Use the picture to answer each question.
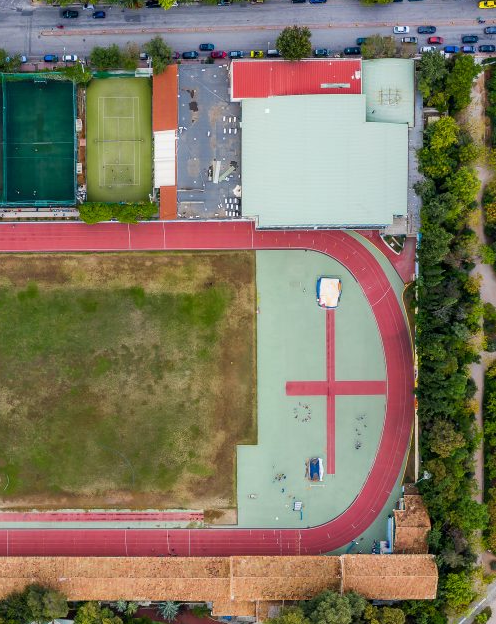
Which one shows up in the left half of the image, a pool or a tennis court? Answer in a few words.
tennis court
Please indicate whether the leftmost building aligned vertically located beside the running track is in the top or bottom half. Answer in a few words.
top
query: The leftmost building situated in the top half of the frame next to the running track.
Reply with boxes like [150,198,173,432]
[153,64,177,224]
